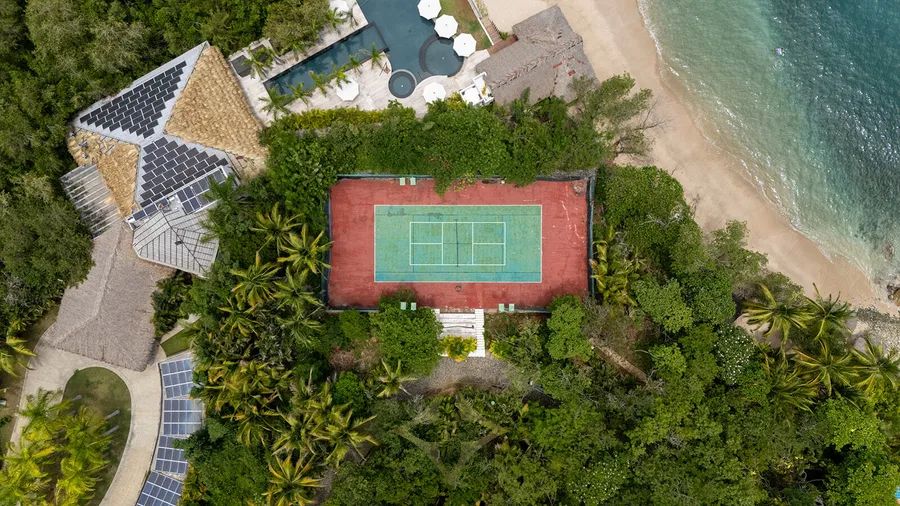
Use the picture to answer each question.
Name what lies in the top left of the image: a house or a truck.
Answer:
house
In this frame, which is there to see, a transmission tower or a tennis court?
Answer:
tennis court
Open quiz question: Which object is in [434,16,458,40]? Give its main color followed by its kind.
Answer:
white umbrella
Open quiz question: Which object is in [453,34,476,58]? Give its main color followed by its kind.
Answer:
white umbrella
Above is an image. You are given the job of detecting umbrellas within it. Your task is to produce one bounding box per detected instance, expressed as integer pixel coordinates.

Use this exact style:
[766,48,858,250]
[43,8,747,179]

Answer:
[453,34,476,58]
[337,80,359,103]
[434,16,458,40]
[330,0,351,16]
[417,0,440,19]
[423,82,445,105]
